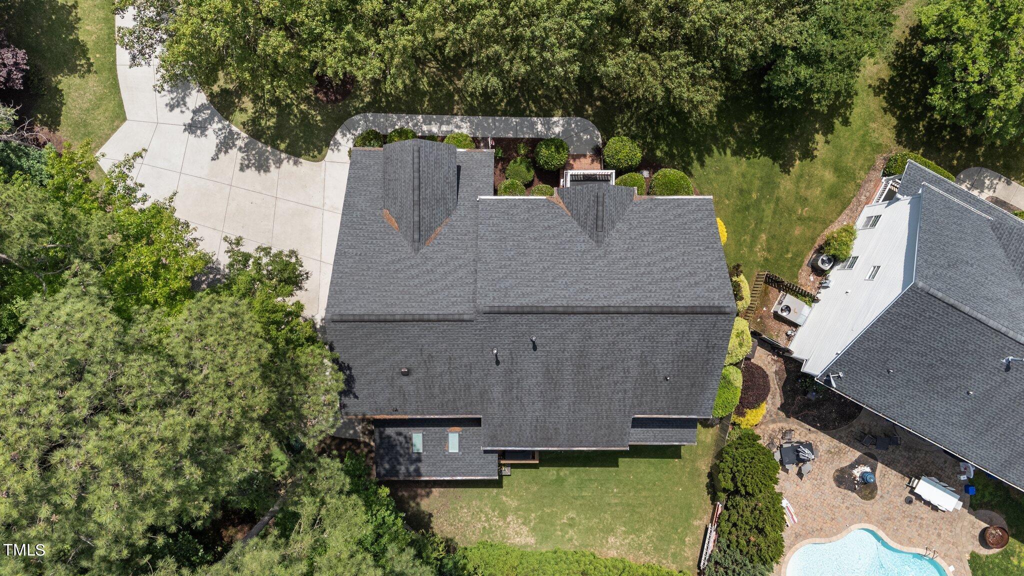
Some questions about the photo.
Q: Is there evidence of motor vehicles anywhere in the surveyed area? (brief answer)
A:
No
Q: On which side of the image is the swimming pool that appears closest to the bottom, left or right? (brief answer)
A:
right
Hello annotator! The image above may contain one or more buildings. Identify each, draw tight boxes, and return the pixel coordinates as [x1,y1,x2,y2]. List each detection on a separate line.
[787,159,1024,496]
[325,139,736,482]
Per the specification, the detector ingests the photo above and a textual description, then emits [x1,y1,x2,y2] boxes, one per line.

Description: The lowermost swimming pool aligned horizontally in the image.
[782,523,955,576]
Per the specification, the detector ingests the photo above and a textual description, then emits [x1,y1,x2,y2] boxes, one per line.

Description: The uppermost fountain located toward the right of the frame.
[864,473,883,489]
